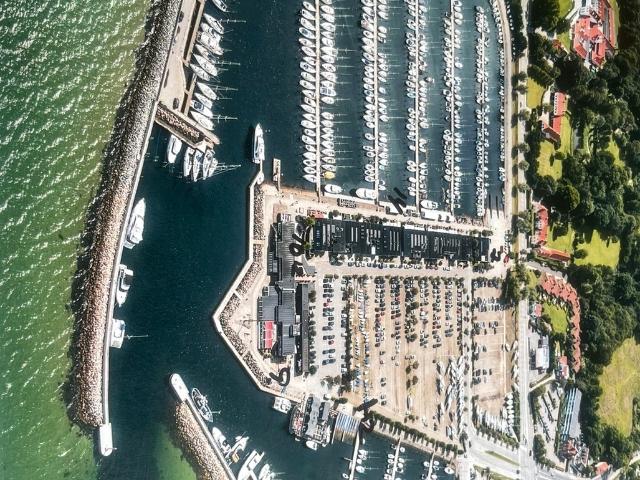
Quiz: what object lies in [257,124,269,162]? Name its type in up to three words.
ship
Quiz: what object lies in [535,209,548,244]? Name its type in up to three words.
house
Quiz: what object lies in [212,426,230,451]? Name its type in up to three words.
boat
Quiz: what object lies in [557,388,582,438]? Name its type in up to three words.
building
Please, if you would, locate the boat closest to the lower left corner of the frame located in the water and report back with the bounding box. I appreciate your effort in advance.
[113,319,134,348]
